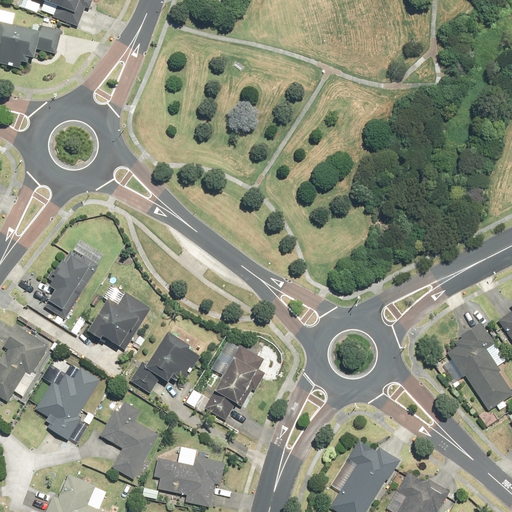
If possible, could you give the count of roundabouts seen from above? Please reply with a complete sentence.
The count of roundabouts comes to 2.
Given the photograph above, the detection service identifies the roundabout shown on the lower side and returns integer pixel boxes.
[296,294,411,410]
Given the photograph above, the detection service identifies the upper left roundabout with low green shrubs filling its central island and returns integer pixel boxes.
[16,84,142,208]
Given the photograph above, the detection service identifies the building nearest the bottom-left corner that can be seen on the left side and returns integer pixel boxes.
[49,474,106,512]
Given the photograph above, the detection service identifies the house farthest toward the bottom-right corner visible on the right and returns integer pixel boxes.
[387,474,450,512]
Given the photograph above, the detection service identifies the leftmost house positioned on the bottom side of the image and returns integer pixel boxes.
[0,326,48,400]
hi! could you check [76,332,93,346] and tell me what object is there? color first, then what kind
white vehicle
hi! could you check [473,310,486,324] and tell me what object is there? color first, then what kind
white vehicle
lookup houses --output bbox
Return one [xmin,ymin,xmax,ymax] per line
[331,440,401,512]
[42,240,102,320]
[205,342,264,422]
[35,365,100,443]
[0,326,48,400]
[101,400,158,480]
[49,474,106,512]
[0,10,62,69]
[25,0,90,28]
[150,446,226,512]
[125,332,200,396]
[387,474,450,512]
[444,322,512,411]
[88,286,150,352]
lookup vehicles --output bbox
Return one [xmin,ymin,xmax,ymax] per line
[76,332,93,346]
[37,282,52,293]
[165,384,178,398]
[473,310,486,324]
[18,280,33,292]
[32,500,48,510]
[176,378,185,392]
[464,310,475,326]
[214,488,232,497]
[230,410,246,422]
[35,492,50,502]
[120,484,131,500]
